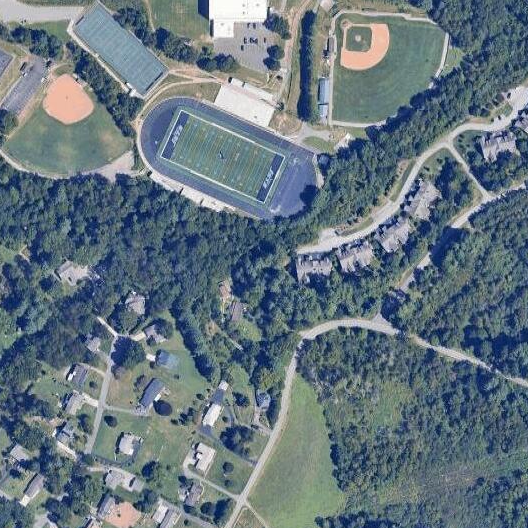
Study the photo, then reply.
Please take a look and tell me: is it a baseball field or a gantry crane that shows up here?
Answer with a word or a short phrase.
baseball field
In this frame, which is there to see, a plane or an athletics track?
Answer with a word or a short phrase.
athletics track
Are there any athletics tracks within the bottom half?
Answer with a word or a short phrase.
No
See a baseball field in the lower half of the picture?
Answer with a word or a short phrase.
No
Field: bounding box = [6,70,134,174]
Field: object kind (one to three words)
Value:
baseball field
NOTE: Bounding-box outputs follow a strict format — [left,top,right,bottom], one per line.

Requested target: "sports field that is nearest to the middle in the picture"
[155,102,291,210]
